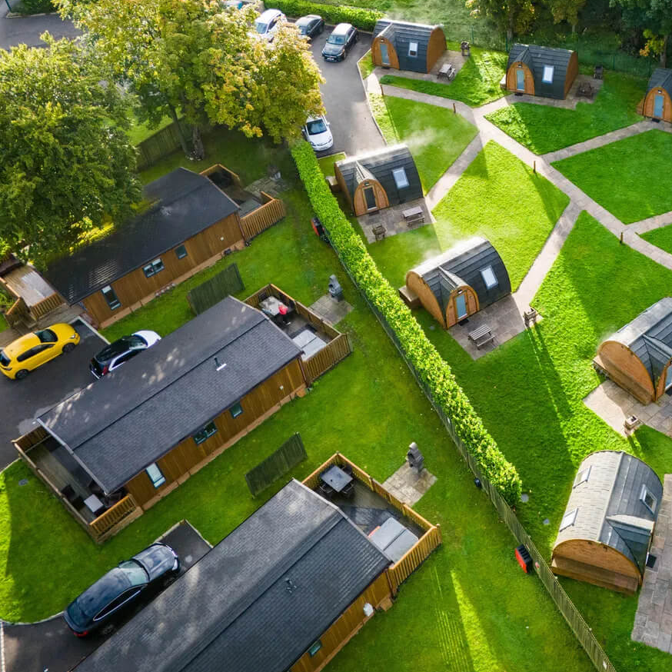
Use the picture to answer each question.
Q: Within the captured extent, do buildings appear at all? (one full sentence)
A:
Yes, there is a building in the image.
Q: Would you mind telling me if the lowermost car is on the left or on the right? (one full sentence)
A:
The lowermost car appears in the left half of the scene.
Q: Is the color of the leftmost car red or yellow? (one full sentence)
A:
In this view, the leftmost car is yellow.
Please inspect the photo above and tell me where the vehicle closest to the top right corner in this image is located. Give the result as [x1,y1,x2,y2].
[329,23,359,54]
